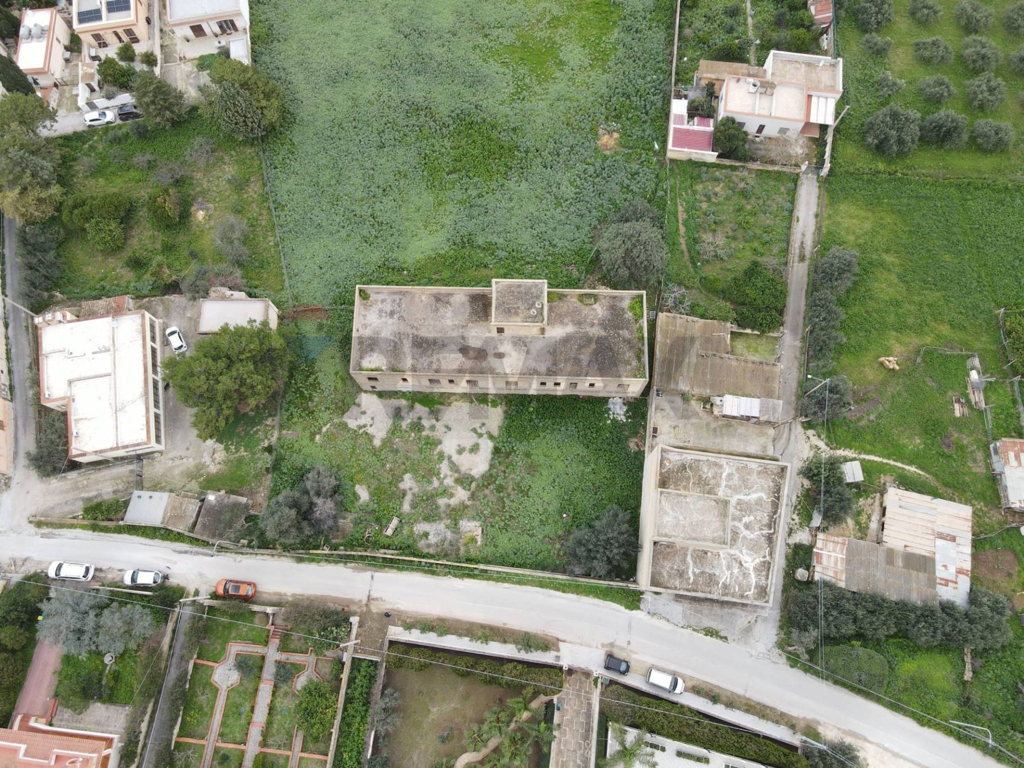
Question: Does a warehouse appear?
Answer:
Yes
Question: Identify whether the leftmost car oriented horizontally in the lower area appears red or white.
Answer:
white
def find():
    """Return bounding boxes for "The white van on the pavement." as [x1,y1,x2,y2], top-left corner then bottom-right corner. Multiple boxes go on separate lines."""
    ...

[646,667,686,695]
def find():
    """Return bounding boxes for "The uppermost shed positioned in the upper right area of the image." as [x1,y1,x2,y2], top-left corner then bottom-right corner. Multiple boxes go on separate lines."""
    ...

[801,0,832,35]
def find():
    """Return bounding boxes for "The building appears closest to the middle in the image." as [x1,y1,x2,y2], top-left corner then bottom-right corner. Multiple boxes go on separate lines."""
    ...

[350,279,649,397]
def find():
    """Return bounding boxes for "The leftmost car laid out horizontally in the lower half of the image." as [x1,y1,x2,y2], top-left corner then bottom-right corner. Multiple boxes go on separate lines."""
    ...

[46,559,97,581]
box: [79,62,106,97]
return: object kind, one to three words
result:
building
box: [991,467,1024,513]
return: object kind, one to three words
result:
shed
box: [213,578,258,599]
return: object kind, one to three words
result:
car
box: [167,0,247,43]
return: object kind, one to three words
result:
house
